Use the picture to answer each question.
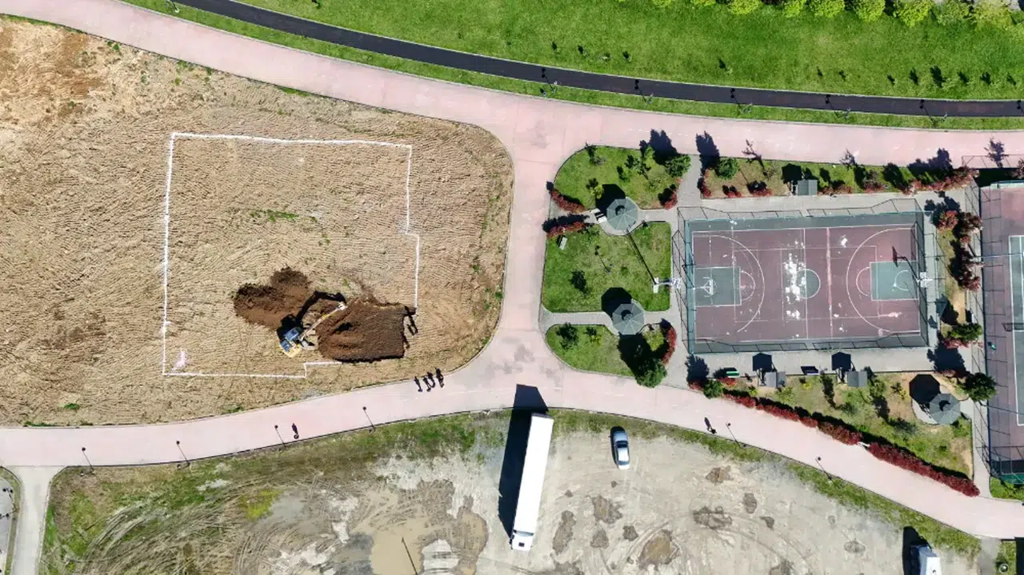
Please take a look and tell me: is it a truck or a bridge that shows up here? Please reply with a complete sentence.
This aerial view contains a truck.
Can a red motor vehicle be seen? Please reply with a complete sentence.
No, this view has no red motor vehicle in it.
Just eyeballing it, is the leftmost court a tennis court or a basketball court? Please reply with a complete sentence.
It turns out the leftmost court is a basketball court.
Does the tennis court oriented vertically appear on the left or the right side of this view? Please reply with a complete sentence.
The tennis court oriented vertically sits on the right side.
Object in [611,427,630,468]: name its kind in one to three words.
car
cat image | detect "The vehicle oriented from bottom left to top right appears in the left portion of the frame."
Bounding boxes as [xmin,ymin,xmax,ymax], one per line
[276,305,344,358]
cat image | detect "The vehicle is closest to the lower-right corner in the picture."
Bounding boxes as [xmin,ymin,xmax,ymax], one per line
[912,547,940,575]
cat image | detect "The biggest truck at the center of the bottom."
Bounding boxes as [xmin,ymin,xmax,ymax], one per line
[508,408,554,550]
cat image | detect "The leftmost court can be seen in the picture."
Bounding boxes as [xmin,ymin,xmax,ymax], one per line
[685,211,928,355]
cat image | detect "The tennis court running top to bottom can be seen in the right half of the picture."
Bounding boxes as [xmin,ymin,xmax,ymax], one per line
[979,184,1024,478]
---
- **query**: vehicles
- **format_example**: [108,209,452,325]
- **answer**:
[912,547,940,575]
[508,408,554,550]
[611,427,630,468]
[276,305,344,358]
